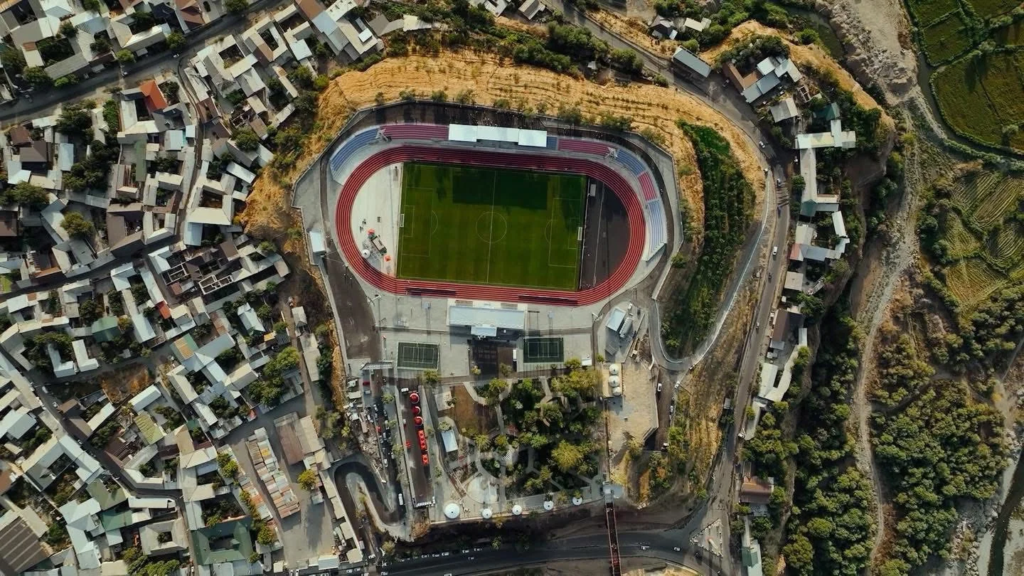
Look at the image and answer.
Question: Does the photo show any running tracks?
Yes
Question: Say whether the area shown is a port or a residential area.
residential area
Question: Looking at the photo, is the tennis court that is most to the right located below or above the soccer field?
below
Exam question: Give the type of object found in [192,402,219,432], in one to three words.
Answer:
house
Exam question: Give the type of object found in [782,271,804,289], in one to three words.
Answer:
house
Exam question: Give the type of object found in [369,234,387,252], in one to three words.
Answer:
vehicle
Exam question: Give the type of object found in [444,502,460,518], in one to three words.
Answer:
umbrella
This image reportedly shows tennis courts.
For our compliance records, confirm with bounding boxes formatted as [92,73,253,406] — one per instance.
[524,338,564,363]
[397,342,440,370]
